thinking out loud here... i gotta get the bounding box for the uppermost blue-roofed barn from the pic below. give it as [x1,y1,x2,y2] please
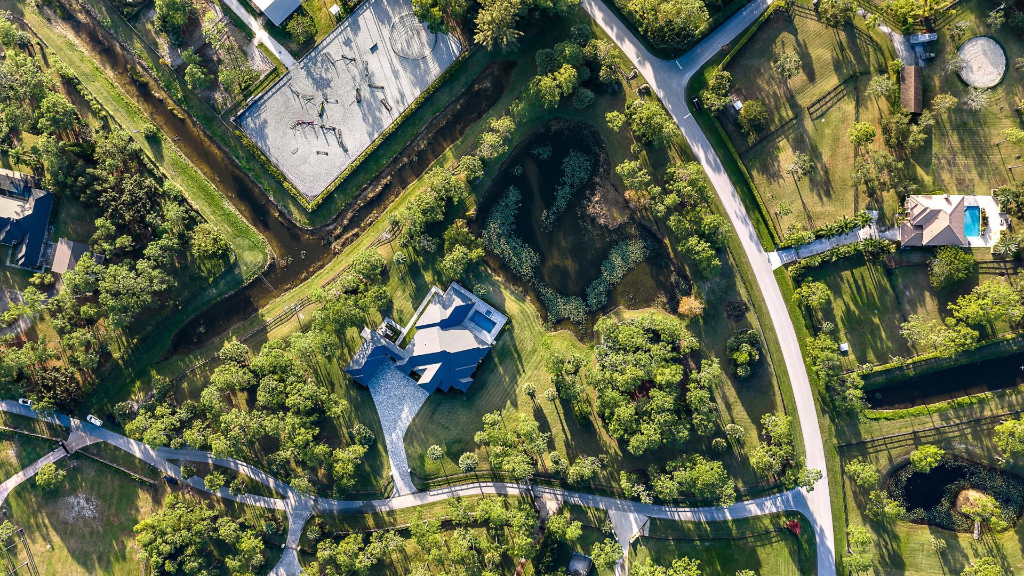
[254,0,304,28]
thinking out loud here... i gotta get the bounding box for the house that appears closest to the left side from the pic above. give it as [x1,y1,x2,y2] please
[0,188,59,267]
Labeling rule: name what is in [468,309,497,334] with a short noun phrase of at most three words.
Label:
swimming pool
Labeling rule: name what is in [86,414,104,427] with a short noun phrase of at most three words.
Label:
vehicle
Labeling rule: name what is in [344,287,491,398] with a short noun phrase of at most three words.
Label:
house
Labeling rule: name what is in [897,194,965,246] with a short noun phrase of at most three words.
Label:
house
